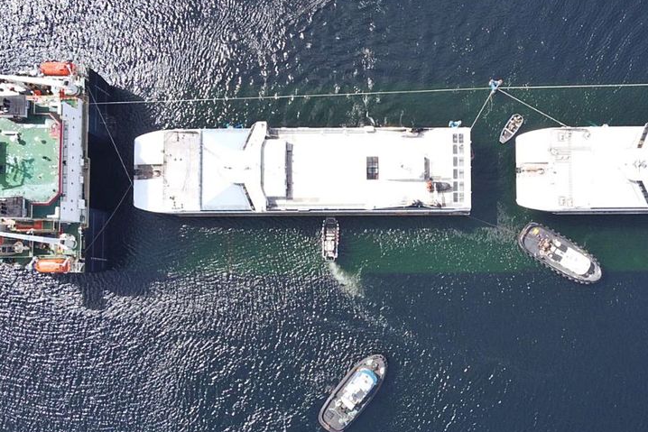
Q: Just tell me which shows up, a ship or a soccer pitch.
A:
ship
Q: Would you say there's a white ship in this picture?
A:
Yes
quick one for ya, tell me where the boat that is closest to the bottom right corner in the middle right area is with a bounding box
[516,221,602,283]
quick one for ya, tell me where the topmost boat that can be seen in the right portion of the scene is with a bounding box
[503,113,522,143]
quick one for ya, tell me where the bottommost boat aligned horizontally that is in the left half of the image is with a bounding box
[35,258,74,274]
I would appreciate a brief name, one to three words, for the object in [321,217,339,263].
boat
